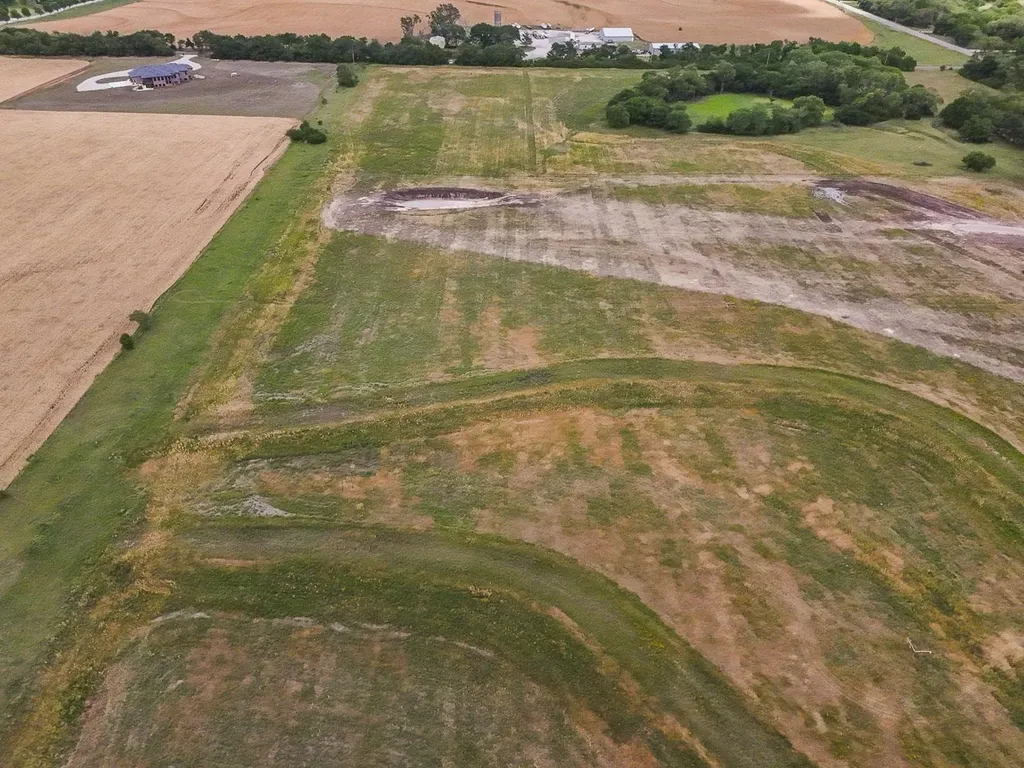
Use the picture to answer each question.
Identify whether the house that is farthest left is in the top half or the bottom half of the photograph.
top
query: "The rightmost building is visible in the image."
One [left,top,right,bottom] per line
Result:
[648,39,701,53]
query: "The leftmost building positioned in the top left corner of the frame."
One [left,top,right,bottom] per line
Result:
[125,62,191,88]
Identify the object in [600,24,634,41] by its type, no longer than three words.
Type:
barn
